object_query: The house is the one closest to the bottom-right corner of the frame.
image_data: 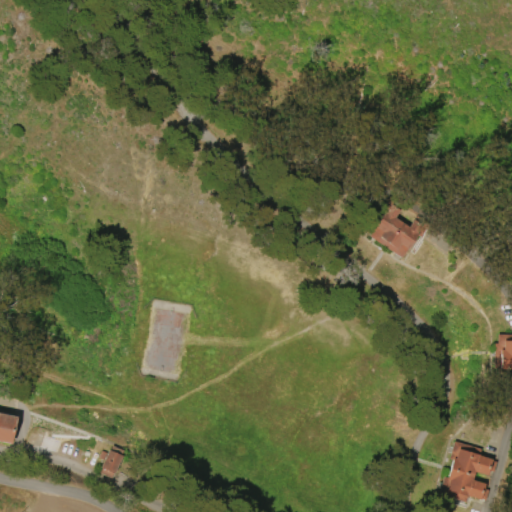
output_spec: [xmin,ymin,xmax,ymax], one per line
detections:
[442,440,500,504]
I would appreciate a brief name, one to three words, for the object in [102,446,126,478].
house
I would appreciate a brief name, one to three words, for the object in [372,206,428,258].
house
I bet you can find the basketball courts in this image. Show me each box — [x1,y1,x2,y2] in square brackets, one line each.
[142,300,192,379]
